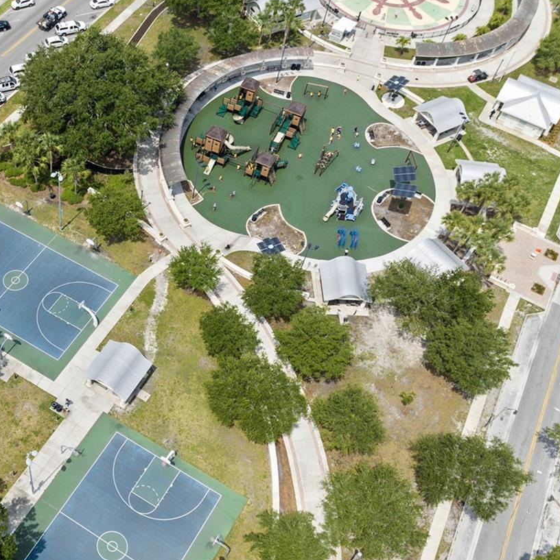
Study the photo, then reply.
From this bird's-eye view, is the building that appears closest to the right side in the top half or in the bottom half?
top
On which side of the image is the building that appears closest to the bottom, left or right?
left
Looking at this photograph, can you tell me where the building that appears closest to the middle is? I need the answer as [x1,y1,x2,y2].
[315,255,373,313]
